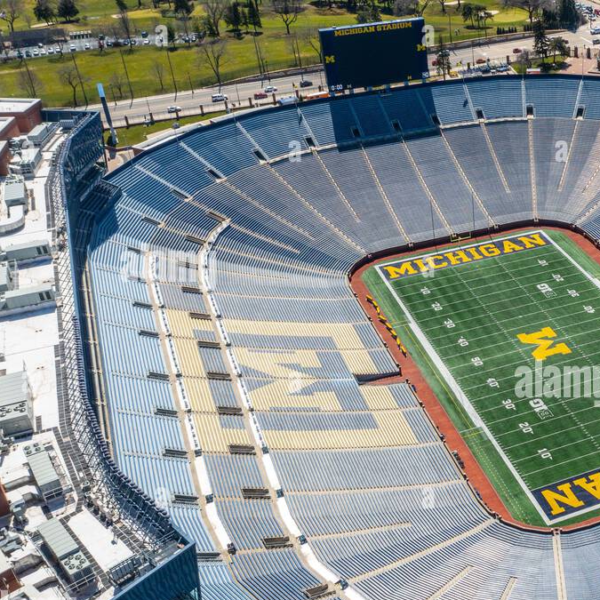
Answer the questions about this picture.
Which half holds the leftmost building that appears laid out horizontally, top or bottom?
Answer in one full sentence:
The leftmost building that appears laid out horizontally sits in the top half of the picture.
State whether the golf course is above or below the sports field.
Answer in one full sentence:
In the image, the golf course sits above the sports field.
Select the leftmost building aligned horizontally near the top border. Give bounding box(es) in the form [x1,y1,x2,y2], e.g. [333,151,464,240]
[1,19,73,50]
